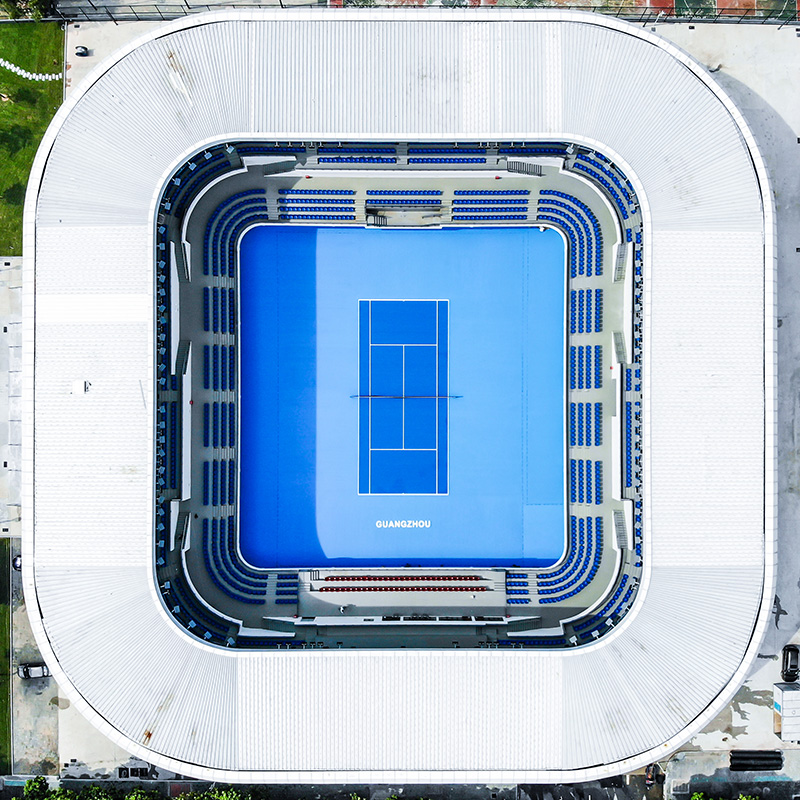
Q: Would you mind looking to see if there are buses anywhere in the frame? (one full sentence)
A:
No, this view has no bus in it.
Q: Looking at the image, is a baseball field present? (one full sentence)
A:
No, no baseball field is visible in the view.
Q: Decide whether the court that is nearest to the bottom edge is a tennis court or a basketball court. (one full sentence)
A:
The court that is nearest to the bottom edge is a tennis court.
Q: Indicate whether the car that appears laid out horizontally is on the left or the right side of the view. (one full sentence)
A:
The car that appears laid out horizontally appears in the left half of the scene.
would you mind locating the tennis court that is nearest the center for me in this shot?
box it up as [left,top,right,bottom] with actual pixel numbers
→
[247,230,562,564]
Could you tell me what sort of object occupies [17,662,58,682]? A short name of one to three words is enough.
car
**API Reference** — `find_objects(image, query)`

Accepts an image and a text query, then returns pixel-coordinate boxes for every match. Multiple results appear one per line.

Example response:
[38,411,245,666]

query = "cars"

[780,644,800,683]
[17,662,58,682]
